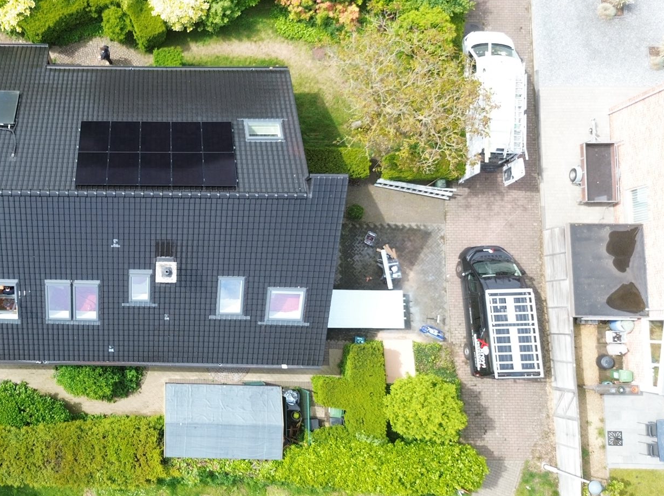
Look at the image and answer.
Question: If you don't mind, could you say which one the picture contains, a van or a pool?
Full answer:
I can see a van in this picture.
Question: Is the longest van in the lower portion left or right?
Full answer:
The longest van in the lower portion sits on the right side.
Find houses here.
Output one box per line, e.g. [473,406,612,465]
[0,41,349,373]
[609,88,664,389]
